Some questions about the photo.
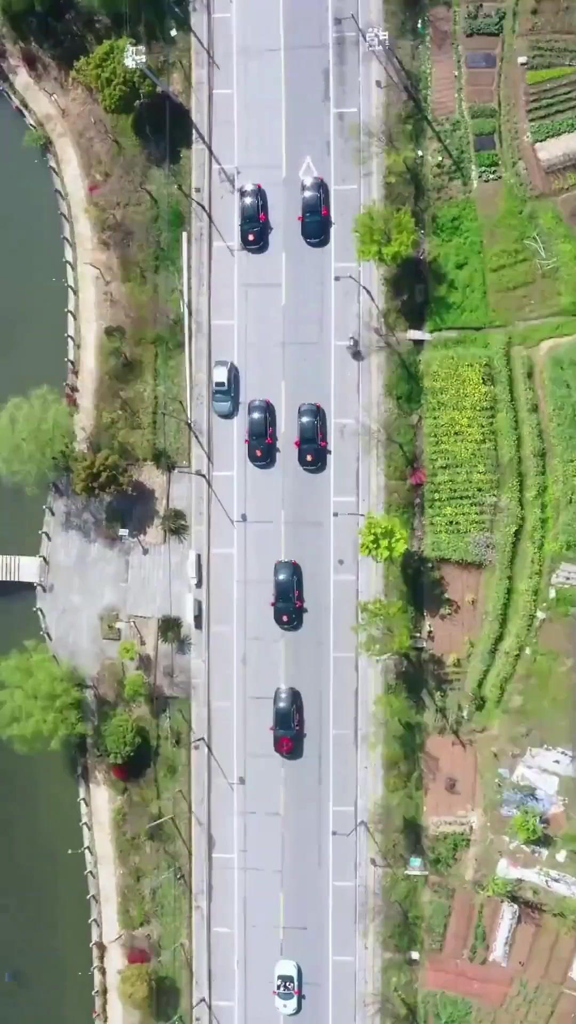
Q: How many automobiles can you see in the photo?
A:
8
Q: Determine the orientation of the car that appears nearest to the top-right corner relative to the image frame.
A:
up and down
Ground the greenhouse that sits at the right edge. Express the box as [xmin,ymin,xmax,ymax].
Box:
[533,131,576,173]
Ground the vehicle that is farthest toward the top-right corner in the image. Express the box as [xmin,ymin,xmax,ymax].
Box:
[296,176,326,242]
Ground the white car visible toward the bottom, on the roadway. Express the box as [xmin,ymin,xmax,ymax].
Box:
[271,958,300,1015]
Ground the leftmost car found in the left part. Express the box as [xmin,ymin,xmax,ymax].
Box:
[210,361,238,418]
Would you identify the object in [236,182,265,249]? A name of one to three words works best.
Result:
car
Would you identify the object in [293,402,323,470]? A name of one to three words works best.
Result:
car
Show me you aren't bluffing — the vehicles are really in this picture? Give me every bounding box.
[271,958,300,1015]
[210,361,238,418]
[269,687,299,756]
[269,560,299,628]
[296,176,326,242]
[293,402,323,470]
[236,182,265,249]
[243,399,273,466]
[346,332,357,355]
